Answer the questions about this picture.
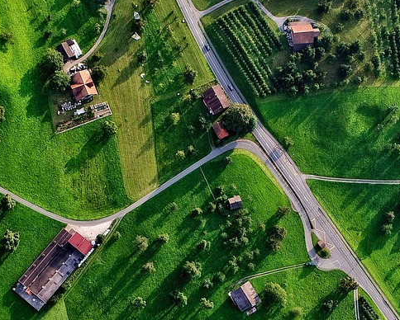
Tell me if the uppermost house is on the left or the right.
right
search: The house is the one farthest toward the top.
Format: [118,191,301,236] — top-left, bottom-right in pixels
[289,21,320,49]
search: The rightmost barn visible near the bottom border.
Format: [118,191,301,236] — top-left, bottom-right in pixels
[227,280,261,316]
